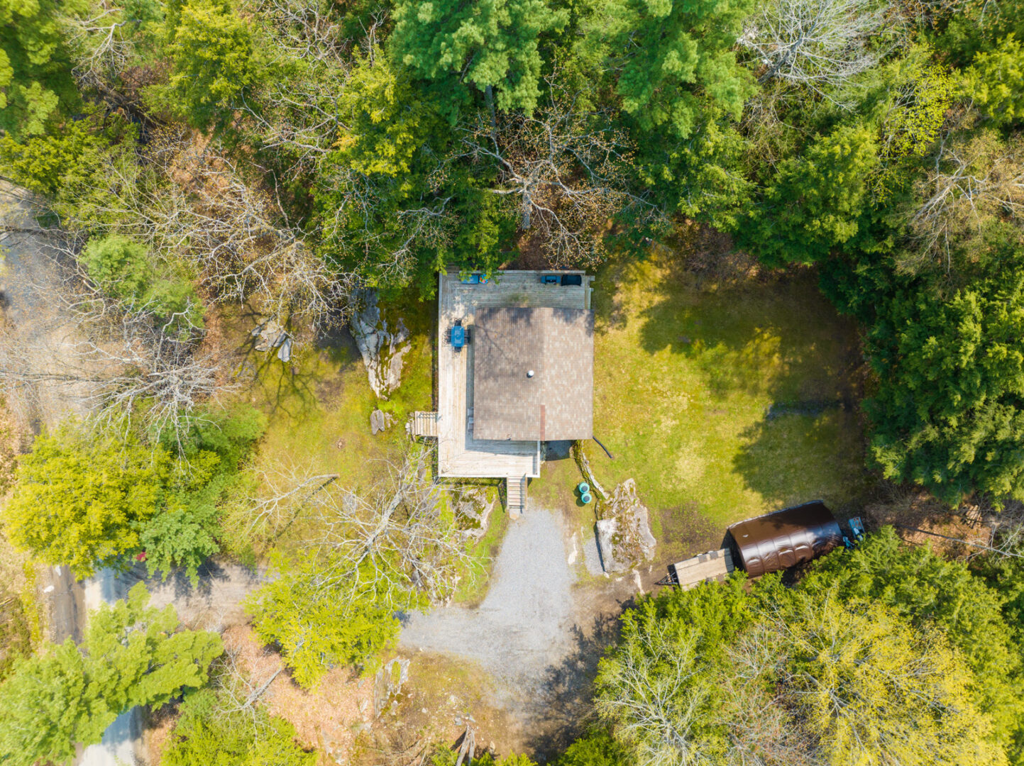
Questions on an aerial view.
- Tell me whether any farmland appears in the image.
No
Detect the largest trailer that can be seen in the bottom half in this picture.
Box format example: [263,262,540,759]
[656,548,734,594]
